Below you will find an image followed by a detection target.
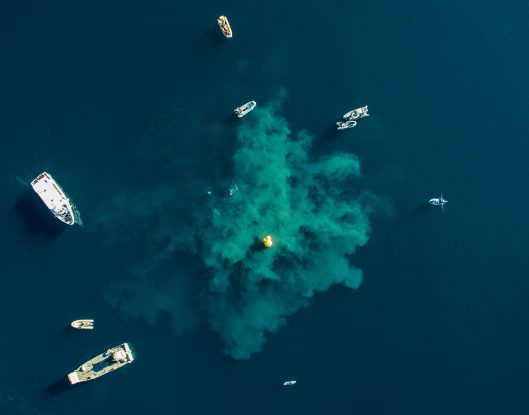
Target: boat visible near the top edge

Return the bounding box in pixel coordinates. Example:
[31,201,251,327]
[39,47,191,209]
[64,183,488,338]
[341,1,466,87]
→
[216,13,232,38]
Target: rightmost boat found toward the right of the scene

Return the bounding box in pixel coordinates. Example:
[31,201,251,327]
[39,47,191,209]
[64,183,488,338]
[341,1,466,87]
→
[428,190,450,212]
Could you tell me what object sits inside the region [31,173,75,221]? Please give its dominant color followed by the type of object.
white ship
